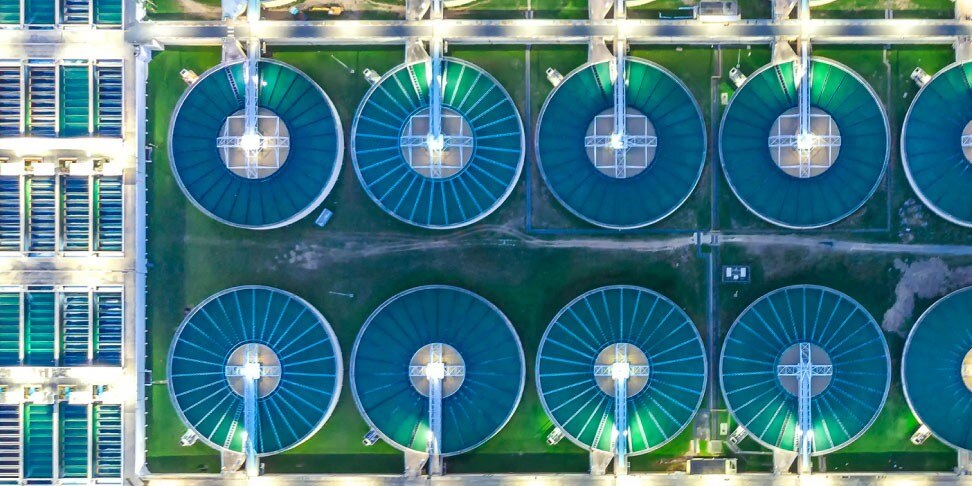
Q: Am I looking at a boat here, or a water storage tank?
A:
water storage tank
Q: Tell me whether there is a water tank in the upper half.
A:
Yes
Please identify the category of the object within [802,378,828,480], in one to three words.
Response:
bridge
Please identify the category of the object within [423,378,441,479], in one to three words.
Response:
bridge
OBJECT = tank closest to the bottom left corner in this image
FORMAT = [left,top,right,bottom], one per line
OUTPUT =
[166,285,342,480]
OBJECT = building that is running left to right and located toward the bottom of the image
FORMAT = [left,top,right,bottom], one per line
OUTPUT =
[686,457,737,474]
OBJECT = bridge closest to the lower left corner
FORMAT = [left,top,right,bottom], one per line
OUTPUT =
[234,378,257,480]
